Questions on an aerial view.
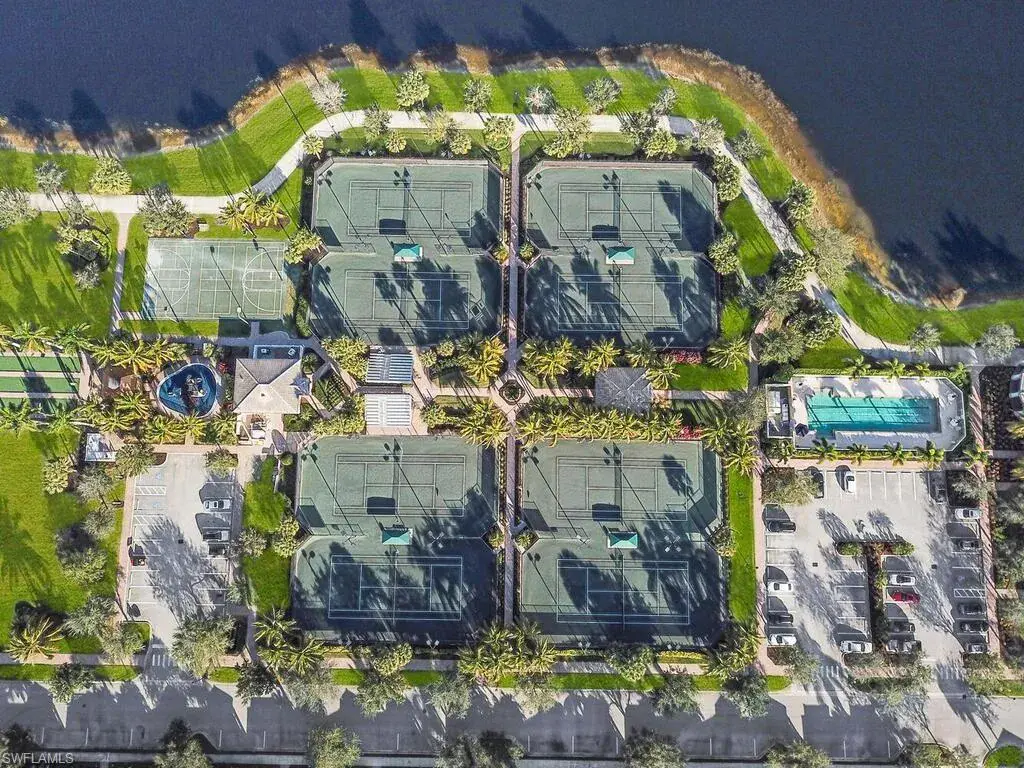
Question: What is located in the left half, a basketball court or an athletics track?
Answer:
basketball court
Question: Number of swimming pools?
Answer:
2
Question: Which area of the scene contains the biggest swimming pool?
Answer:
right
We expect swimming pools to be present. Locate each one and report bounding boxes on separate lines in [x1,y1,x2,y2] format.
[156,361,219,418]
[792,376,966,449]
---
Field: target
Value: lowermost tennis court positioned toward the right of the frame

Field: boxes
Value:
[522,535,728,645]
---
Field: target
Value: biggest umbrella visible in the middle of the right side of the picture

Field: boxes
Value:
[794,423,811,440]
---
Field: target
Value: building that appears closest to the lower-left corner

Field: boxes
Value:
[85,433,124,458]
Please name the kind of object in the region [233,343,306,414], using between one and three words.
building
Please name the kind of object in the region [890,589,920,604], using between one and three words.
car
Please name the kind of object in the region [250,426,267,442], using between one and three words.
umbrella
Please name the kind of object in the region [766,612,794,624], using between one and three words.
vehicle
